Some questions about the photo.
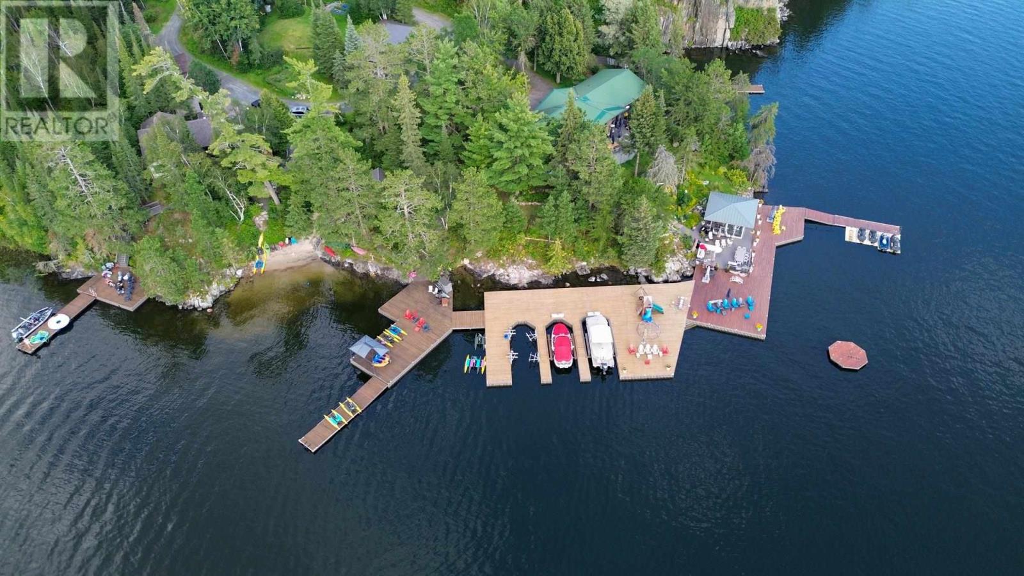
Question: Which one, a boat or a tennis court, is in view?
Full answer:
It is a boat that can be seen here.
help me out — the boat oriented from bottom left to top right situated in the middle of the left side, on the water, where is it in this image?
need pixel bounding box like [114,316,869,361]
[10,308,51,337]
